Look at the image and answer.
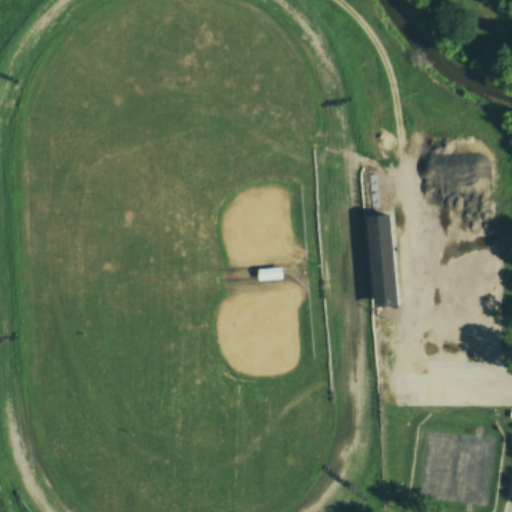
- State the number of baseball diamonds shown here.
2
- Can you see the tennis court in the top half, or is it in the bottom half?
bottom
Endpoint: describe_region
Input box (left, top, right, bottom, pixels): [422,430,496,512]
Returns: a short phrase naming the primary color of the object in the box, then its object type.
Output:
gray tennis court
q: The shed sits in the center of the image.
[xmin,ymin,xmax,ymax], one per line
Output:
[258,267,284,281]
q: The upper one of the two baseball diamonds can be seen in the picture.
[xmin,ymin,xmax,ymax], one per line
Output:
[222,186,306,270]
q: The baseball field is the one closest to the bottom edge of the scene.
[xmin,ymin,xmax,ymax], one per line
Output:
[218,275,306,376]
